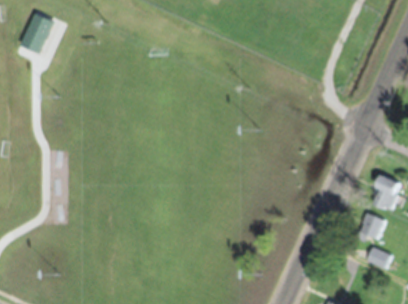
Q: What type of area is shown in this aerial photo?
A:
sports ground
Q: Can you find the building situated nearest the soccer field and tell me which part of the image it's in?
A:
top left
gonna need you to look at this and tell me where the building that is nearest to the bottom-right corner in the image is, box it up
[368,246,394,268]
